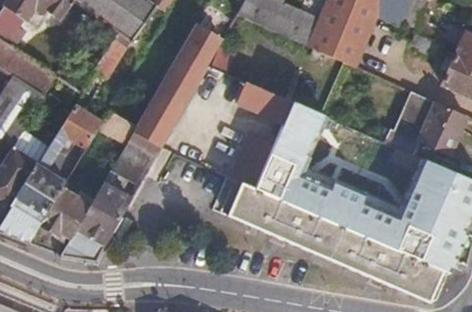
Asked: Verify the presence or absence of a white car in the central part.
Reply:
Yes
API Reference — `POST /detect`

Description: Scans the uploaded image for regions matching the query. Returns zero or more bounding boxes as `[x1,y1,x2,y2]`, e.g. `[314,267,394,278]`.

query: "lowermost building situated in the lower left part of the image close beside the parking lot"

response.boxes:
[63,233,102,258]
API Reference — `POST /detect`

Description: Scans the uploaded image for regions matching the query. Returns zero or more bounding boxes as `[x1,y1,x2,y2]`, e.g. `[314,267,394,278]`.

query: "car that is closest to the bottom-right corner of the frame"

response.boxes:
[294,260,307,284]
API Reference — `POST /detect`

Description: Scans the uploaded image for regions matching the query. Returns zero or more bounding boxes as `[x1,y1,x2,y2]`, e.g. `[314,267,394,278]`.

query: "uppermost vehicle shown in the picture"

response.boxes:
[380,36,394,56]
